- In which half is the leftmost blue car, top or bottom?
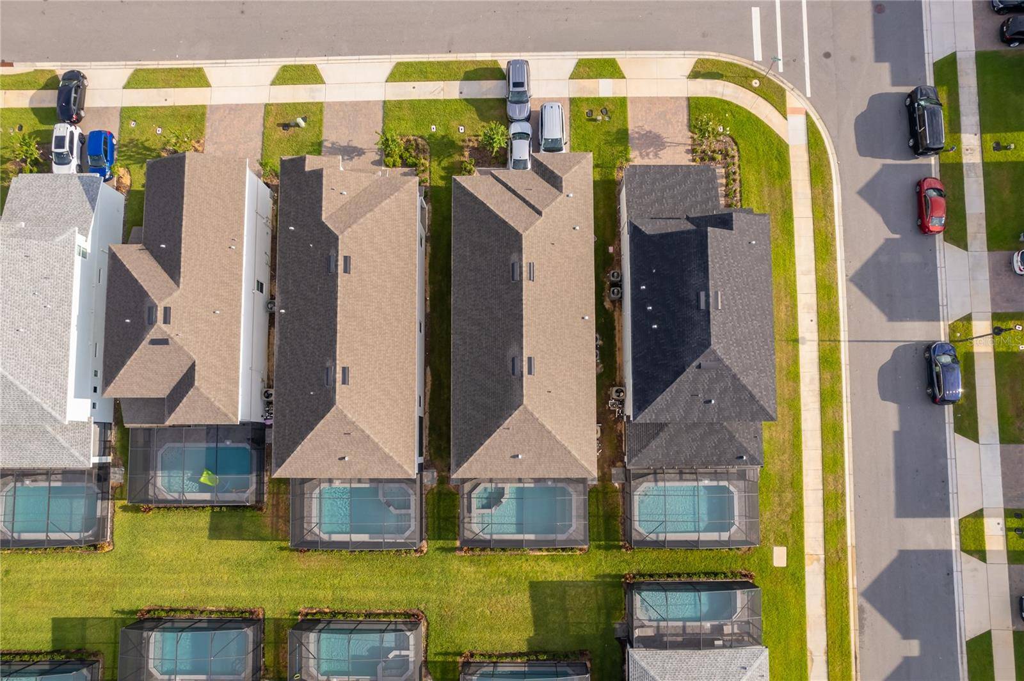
top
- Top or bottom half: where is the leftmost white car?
top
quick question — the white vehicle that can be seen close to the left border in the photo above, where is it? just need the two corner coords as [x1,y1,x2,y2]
[47,121,81,172]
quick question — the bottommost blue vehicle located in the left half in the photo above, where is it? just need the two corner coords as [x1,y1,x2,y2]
[82,127,113,180]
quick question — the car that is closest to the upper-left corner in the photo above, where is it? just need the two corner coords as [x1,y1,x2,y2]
[53,70,87,125]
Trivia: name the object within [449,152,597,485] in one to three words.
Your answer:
house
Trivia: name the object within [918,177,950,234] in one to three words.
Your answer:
car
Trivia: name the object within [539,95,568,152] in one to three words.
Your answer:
car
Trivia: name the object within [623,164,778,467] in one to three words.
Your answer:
house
